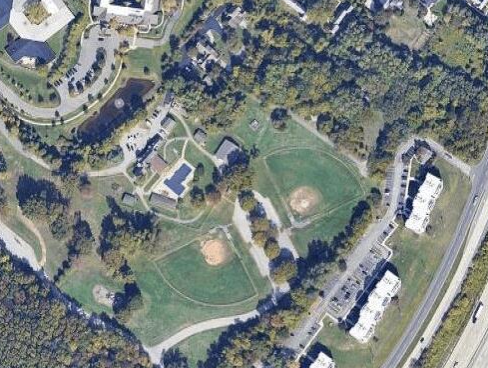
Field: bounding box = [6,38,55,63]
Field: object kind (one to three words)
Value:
building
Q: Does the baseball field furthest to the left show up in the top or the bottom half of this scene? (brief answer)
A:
bottom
